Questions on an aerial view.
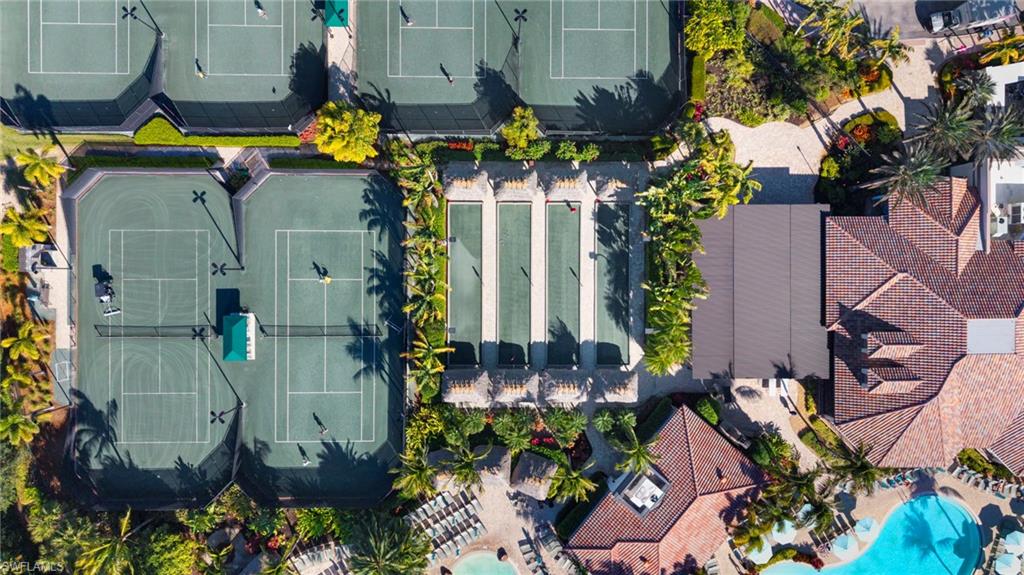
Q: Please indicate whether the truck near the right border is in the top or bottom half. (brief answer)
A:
top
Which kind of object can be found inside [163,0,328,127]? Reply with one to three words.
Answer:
tennis court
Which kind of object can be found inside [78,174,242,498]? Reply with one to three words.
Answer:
tennis court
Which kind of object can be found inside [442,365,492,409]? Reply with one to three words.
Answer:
shed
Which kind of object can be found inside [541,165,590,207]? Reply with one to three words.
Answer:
shed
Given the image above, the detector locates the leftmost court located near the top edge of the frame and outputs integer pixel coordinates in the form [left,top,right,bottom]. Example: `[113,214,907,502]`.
[0,0,163,126]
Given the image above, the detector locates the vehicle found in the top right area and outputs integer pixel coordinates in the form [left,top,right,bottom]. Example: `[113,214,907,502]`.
[923,0,1018,38]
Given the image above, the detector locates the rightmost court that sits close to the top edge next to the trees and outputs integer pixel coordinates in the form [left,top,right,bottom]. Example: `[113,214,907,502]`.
[518,0,678,130]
